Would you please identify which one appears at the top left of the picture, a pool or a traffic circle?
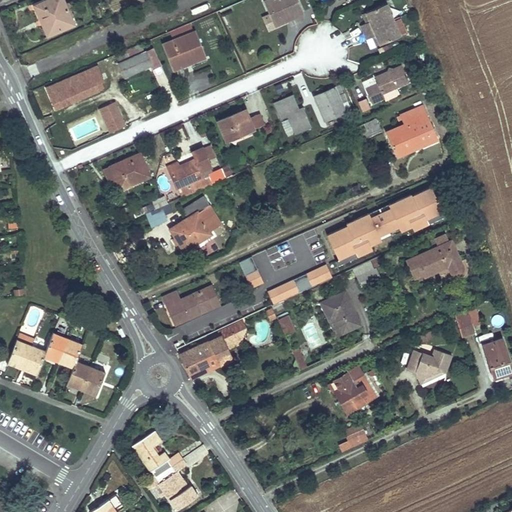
pool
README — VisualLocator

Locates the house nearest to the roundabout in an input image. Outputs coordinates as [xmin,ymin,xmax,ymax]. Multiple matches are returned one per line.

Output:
[179,319,250,376]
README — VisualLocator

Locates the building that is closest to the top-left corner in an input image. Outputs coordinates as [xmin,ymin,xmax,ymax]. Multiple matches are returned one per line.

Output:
[28,0,78,38]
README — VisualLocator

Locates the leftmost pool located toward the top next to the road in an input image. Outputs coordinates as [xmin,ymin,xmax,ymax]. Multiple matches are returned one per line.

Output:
[66,109,108,146]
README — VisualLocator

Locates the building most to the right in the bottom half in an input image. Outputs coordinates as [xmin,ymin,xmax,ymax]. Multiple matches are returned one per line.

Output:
[482,339,512,381]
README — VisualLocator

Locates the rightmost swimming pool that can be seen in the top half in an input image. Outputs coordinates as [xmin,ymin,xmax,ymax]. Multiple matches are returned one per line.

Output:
[157,173,171,192]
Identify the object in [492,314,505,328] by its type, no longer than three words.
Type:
swimming pool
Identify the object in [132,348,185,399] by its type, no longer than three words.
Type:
roundabout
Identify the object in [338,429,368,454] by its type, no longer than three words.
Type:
shed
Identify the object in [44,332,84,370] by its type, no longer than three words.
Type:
house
